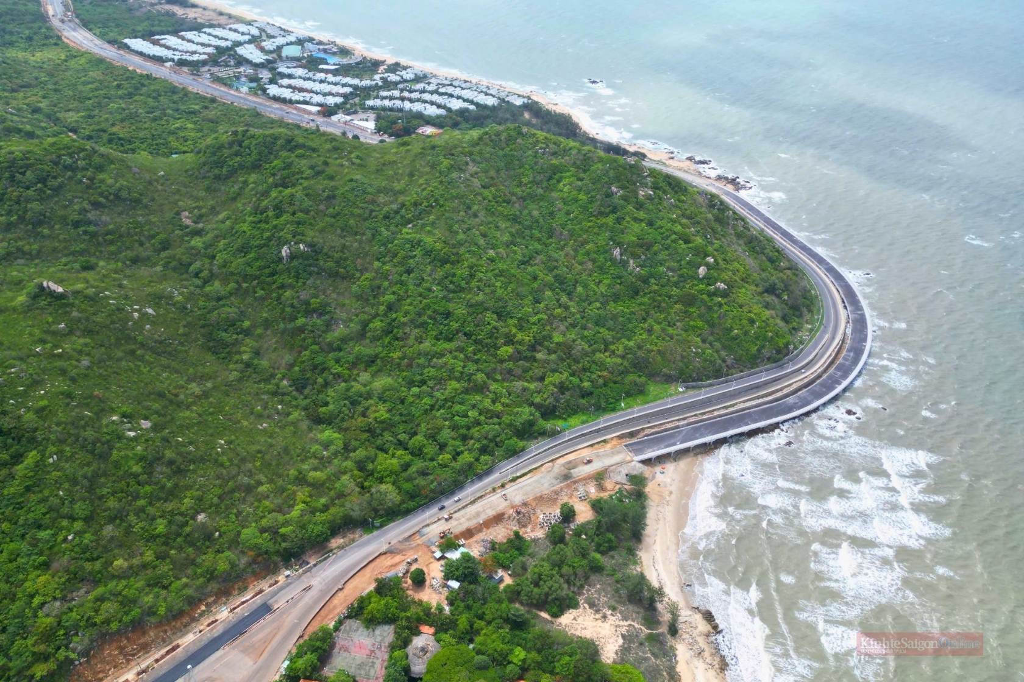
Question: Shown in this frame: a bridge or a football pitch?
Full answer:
I can see a bridge in this picture.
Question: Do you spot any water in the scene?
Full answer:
Yes, there's water in this view.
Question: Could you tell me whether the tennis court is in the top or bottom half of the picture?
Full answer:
The tennis court sits in the bottom half of the picture.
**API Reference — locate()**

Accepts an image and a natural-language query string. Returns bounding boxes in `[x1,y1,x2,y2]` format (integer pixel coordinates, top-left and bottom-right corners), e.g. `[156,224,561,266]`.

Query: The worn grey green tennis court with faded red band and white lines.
[332,619,397,682]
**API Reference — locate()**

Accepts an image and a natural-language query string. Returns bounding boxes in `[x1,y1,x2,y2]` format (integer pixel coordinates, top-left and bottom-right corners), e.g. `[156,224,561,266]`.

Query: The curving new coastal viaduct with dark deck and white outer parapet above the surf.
[623,191,869,461]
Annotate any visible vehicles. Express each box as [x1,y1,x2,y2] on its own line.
[583,456,593,463]
[501,491,508,499]
[452,496,461,502]
[511,501,521,517]
[438,525,457,539]
[437,503,447,510]
[443,513,453,520]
